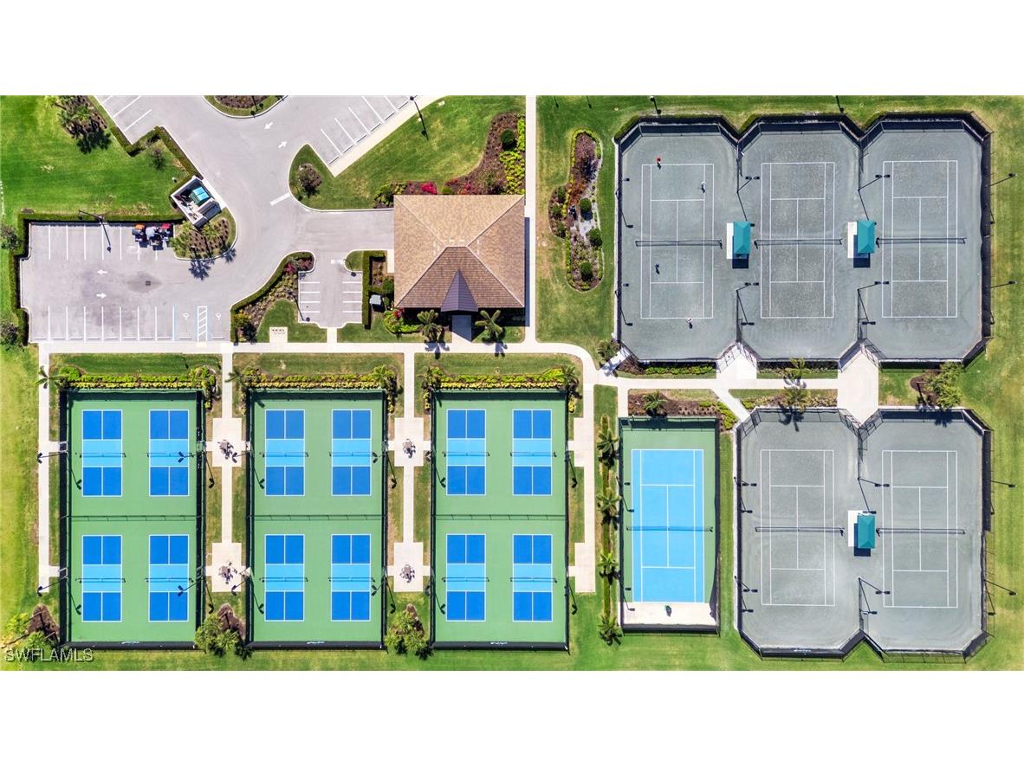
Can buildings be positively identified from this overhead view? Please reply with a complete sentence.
Yes, there is a building in the image.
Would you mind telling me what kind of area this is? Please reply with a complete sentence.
What you see here is a sports ground.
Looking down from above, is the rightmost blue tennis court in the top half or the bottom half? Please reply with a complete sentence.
You can find the rightmost blue tennis court in the bottom half.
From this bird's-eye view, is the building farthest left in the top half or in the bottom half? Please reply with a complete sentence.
The building farthest left sits in the top half of the picture.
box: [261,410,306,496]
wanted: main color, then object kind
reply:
blue sports court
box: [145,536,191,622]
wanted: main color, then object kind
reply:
blue sports court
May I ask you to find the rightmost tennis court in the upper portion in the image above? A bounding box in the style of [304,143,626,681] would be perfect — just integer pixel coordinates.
[859,120,982,359]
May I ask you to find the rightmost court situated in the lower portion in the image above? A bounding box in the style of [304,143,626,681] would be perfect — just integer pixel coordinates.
[859,410,983,650]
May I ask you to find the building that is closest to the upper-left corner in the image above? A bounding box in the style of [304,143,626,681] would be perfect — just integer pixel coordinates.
[394,194,524,314]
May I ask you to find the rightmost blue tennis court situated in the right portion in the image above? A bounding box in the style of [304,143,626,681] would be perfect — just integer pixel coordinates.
[618,416,716,625]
